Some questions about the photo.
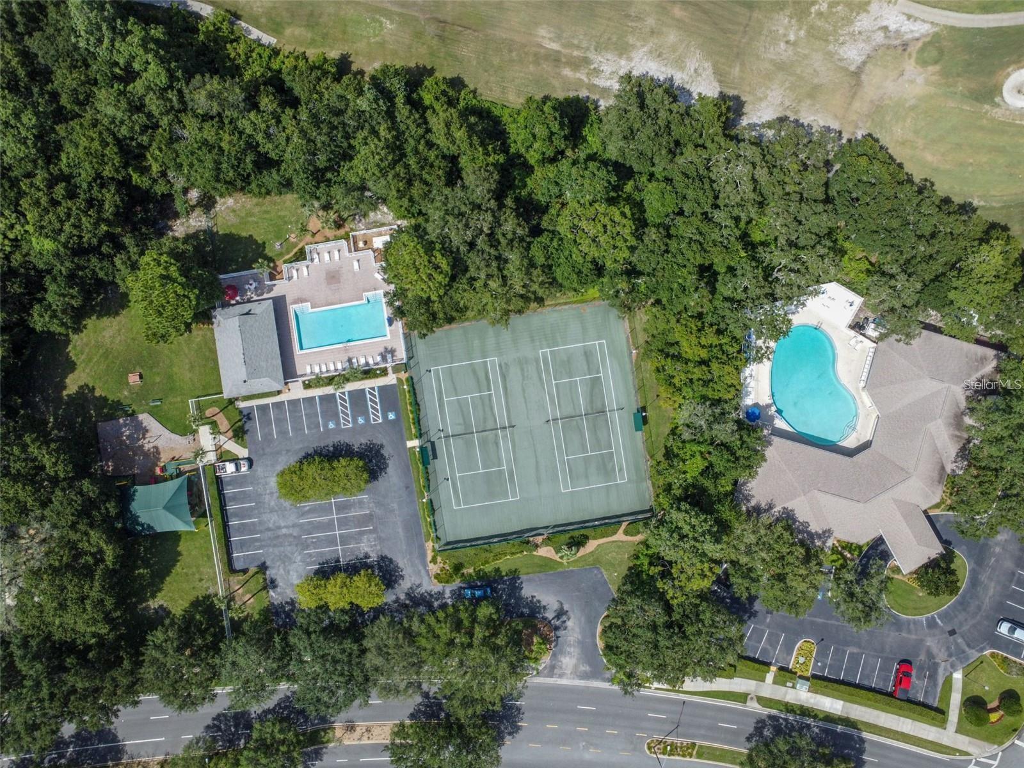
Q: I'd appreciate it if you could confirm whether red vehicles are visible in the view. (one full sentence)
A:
Yes, there's a red vehicle here.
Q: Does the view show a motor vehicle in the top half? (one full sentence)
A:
No, there is no motor vehicle in the top half.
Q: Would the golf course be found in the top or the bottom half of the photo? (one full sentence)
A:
The golf course is in the top half of the image.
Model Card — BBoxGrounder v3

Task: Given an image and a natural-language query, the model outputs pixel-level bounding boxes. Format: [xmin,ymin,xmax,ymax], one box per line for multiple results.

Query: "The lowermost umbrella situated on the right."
[746,407,760,422]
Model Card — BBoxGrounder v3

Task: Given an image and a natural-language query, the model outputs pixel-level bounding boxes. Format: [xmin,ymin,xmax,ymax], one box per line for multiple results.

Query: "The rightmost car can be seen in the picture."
[995,621,1024,641]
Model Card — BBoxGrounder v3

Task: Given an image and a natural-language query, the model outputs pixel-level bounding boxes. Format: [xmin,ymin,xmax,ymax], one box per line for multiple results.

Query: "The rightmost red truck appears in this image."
[893,661,914,700]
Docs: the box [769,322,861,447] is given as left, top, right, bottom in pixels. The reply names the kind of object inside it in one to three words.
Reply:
swimming pool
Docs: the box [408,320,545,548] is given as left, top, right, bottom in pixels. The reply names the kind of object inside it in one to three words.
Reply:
tennis court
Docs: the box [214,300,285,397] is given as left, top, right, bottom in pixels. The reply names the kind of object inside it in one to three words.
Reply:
building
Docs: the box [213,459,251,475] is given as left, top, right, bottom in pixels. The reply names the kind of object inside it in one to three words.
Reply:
vehicle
